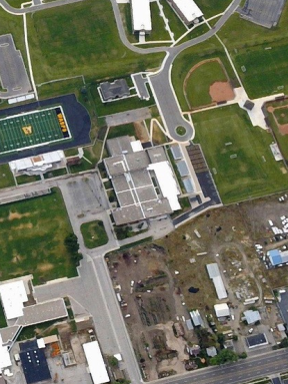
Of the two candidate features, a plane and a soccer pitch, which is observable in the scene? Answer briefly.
soccer pitch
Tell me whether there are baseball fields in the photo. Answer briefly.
Yes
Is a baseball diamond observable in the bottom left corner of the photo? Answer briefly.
No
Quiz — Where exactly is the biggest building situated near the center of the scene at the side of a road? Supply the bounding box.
[103,135,181,228]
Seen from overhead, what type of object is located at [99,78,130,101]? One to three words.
building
